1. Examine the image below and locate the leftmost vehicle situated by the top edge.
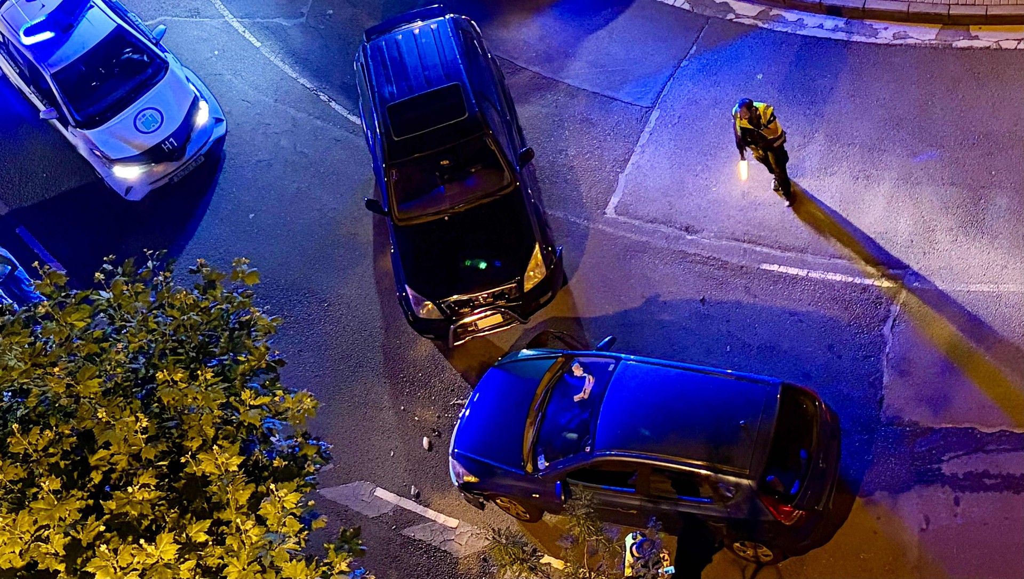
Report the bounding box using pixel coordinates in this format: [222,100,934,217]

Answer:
[0,0,227,202]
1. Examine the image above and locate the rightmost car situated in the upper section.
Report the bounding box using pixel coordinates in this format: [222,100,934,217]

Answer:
[358,0,561,353]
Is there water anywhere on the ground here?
No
